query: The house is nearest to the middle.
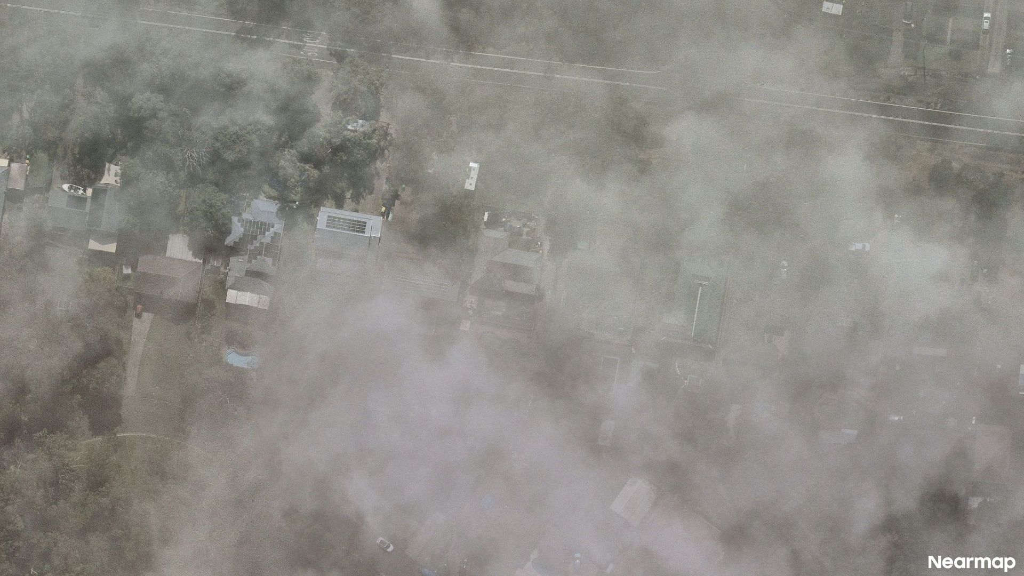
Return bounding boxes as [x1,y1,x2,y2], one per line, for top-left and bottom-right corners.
[469,248,544,299]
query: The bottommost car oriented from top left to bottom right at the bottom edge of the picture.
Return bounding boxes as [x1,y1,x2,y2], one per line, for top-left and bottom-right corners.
[376,537,394,552]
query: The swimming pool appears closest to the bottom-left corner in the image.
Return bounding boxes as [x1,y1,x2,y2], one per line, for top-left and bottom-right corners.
[224,347,262,371]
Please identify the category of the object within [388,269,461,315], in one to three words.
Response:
house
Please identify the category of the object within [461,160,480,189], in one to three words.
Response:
camper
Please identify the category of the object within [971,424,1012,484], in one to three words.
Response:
house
